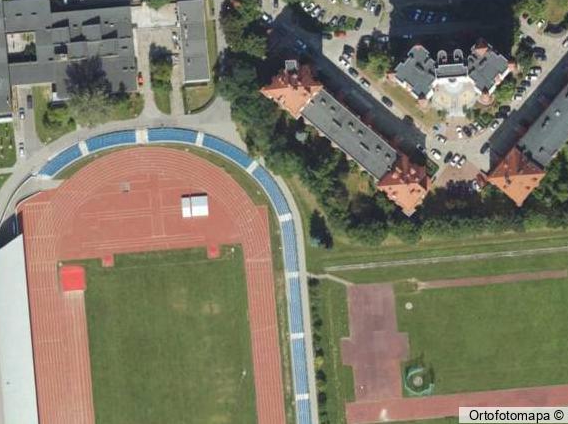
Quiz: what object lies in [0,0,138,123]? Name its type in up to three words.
building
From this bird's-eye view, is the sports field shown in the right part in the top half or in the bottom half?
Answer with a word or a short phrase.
bottom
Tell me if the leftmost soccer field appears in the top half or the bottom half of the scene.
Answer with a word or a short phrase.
bottom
